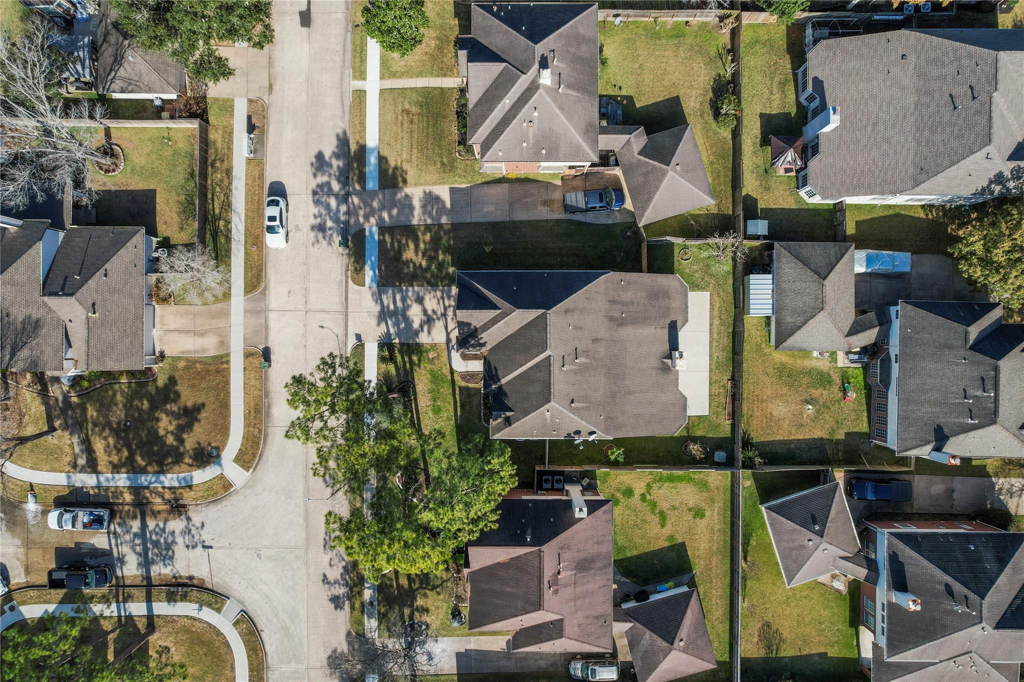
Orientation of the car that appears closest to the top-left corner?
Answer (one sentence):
In this picture, the car that appears closest to the top-left corner is oriented vertically.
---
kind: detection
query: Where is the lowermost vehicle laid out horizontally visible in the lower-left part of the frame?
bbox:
[46,563,116,592]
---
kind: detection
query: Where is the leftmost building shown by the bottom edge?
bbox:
[465,477,614,653]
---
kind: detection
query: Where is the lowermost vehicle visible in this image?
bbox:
[567,653,621,681]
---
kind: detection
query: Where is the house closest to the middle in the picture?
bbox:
[455,269,690,447]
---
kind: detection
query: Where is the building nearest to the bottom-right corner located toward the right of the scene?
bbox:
[858,520,1024,682]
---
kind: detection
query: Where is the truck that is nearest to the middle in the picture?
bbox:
[560,186,625,214]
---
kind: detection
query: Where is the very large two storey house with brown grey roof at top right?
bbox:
[795,28,1024,203]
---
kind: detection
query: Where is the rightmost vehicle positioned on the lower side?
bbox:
[843,477,912,503]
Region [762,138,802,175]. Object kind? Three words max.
gazebo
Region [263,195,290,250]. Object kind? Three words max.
car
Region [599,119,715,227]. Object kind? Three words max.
building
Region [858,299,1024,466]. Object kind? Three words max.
house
